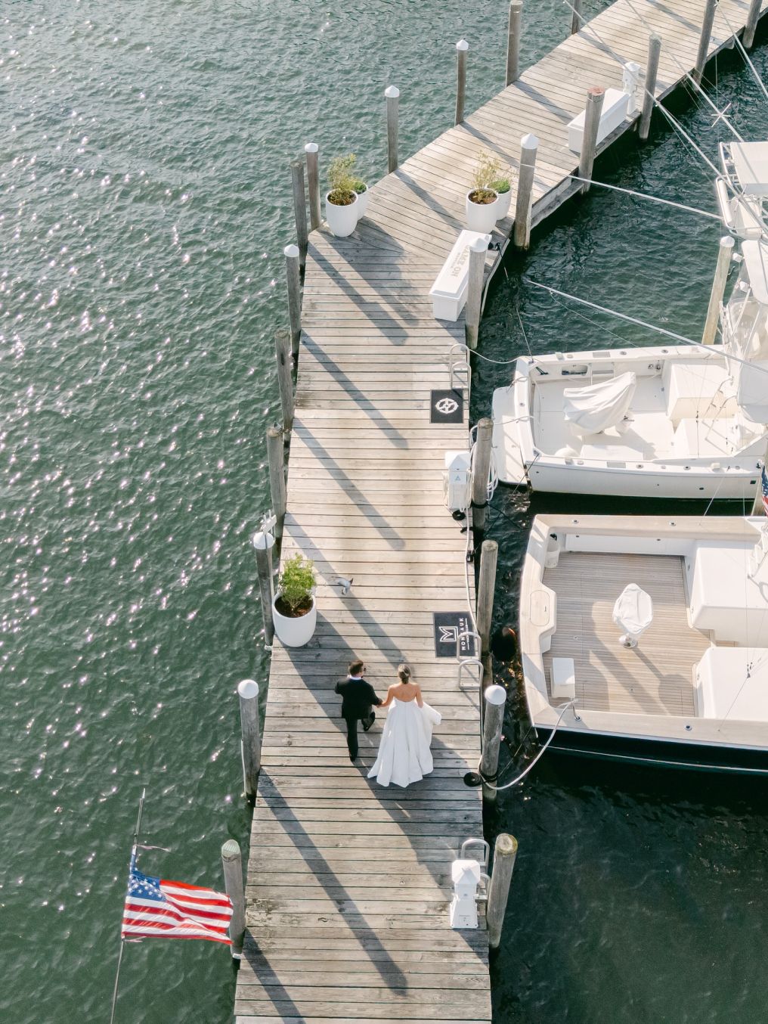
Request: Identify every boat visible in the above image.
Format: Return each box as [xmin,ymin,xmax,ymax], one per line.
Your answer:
[519,455,768,777]
[492,0,768,499]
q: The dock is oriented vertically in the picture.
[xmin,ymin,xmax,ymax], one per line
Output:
[233,0,768,1024]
